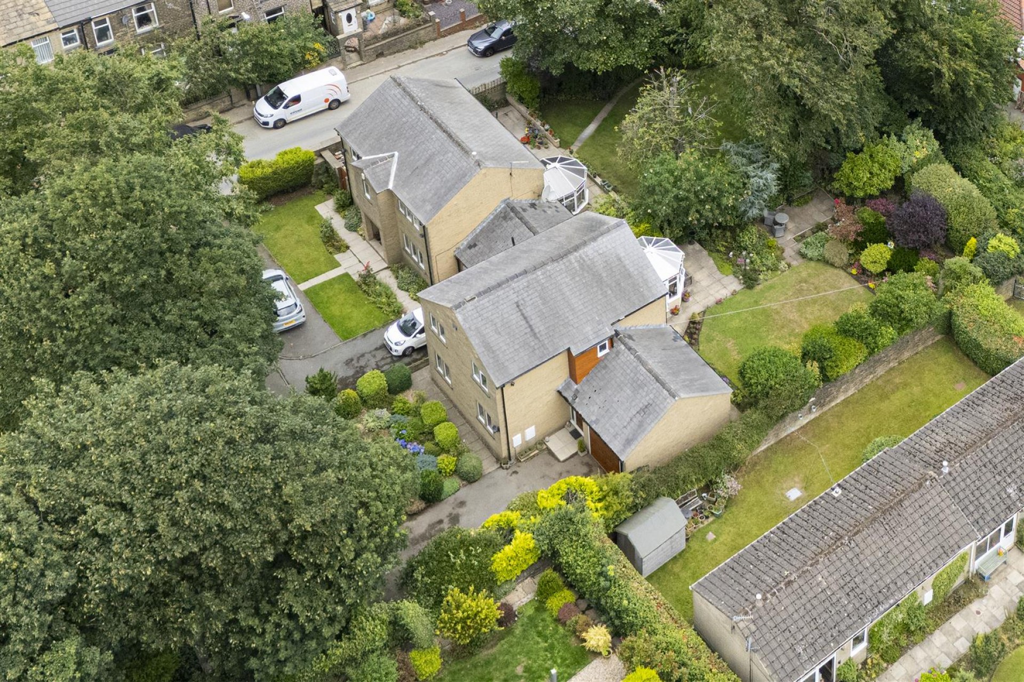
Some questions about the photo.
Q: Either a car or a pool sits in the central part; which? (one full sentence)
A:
You can see a car in the central part.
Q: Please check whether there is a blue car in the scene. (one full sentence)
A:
No, there's no blue car here.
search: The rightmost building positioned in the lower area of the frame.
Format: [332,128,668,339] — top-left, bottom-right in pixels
[690,343,1024,682]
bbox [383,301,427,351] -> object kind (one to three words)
car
